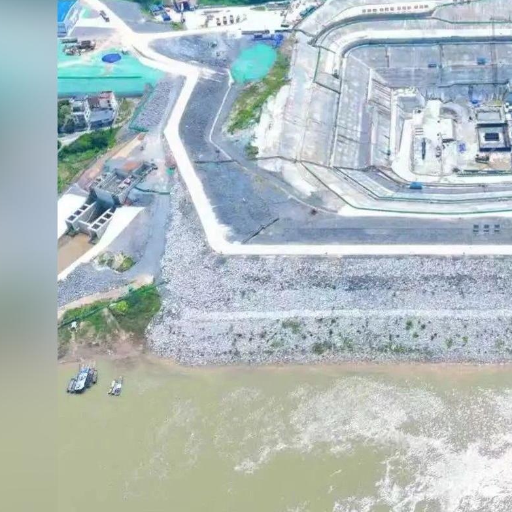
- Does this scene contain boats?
Yes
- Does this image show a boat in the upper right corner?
No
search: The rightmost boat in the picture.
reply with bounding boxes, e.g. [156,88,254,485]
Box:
[108,377,124,394]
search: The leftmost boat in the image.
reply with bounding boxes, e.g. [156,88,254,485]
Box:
[69,365,99,393]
